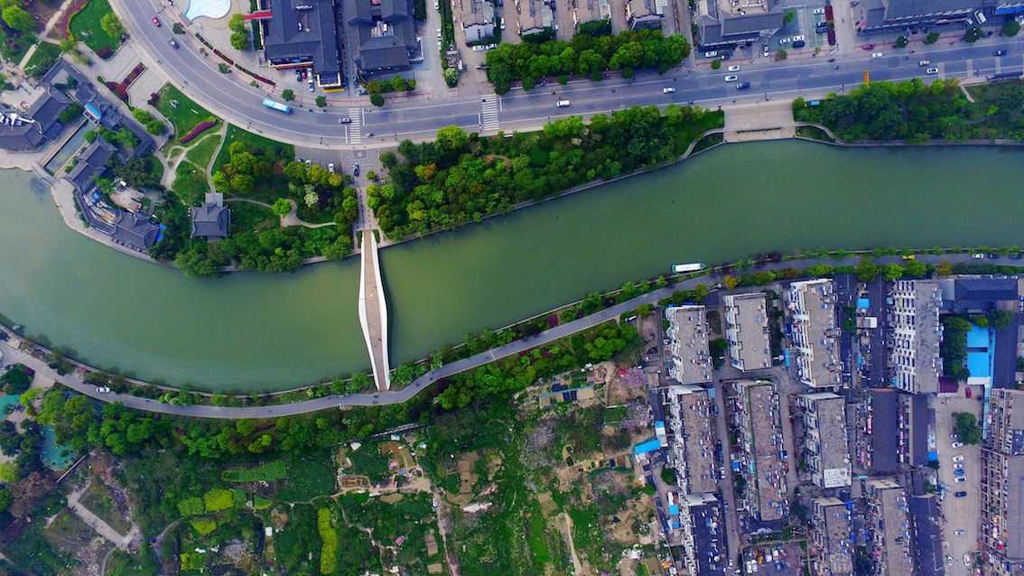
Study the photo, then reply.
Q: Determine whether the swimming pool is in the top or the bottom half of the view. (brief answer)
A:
top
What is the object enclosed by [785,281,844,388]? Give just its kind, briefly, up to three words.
building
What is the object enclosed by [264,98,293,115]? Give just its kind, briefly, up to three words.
vehicle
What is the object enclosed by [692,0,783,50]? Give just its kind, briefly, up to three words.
house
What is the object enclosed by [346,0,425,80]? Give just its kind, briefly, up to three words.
building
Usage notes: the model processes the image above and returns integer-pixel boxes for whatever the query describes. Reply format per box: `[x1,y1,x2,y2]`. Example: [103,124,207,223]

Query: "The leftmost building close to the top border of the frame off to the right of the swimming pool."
[260,0,344,94]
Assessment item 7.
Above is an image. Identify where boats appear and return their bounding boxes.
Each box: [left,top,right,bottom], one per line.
[670,262,704,274]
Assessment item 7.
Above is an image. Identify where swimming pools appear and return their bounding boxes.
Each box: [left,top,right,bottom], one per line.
[183,0,232,22]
